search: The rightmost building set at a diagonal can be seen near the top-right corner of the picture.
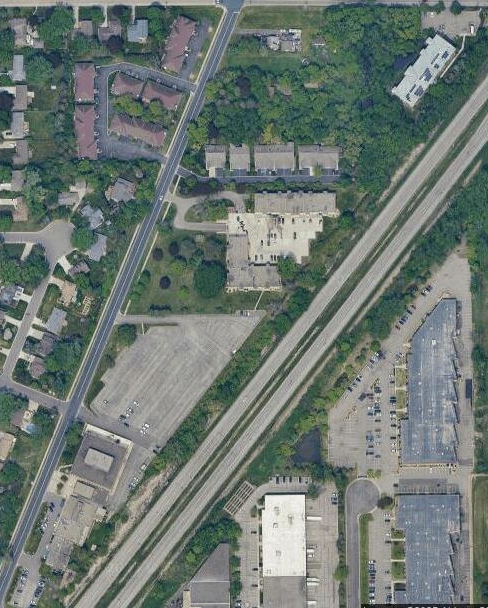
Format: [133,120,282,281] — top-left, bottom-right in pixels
[392,34,456,106]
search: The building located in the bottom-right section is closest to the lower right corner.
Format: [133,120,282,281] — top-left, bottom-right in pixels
[393,495,460,608]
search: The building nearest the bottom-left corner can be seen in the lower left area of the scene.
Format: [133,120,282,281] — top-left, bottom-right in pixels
[47,538,73,571]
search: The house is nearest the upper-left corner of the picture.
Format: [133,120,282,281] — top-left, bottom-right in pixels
[11,18,26,46]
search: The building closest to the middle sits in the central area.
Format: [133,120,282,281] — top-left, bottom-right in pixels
[227,234,280,291]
